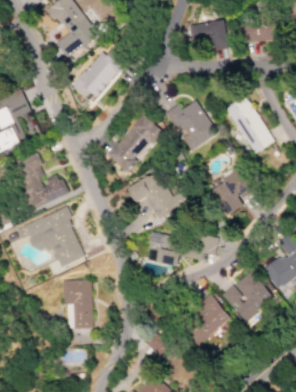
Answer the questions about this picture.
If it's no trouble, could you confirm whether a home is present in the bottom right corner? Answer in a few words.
Yes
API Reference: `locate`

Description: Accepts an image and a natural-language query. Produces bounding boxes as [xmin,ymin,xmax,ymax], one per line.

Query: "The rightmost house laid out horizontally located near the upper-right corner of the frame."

[245,26,276,42]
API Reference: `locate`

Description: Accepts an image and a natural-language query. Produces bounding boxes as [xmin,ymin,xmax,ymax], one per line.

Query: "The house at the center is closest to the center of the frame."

[130,172,183,215]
